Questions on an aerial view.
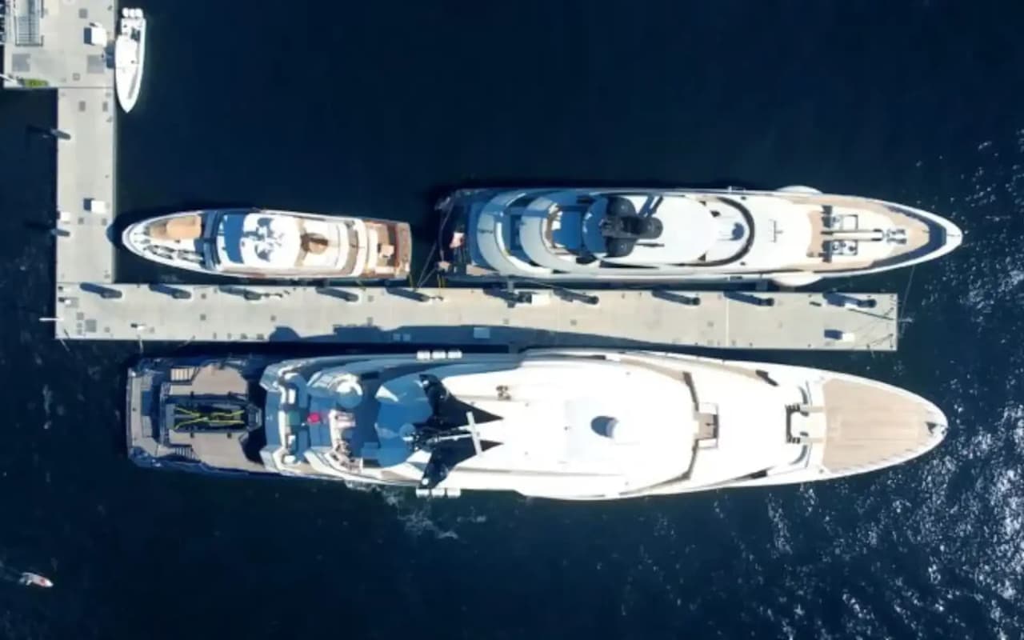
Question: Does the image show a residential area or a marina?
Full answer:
It's a marina.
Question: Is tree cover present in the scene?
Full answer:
No, there's no tree cover in this view.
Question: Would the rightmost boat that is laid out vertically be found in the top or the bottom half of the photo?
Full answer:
The rightmost boat that is laid out vertically is in the top half of the image.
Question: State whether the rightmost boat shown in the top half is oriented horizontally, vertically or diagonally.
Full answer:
The rightmost boat shown in the top half is laid out horizontally.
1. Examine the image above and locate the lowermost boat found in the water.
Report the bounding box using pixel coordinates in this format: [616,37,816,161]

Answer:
[16,571,54,588]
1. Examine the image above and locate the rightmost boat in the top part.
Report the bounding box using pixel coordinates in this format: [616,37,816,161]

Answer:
[439,182,967,286]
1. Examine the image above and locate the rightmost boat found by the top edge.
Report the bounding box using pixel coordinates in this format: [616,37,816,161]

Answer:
[113,8,146,111]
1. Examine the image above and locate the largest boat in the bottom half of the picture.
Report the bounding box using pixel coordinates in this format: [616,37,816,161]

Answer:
[127,351,951,499]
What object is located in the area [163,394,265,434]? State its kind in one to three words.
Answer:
boat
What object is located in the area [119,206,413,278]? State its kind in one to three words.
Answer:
boat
